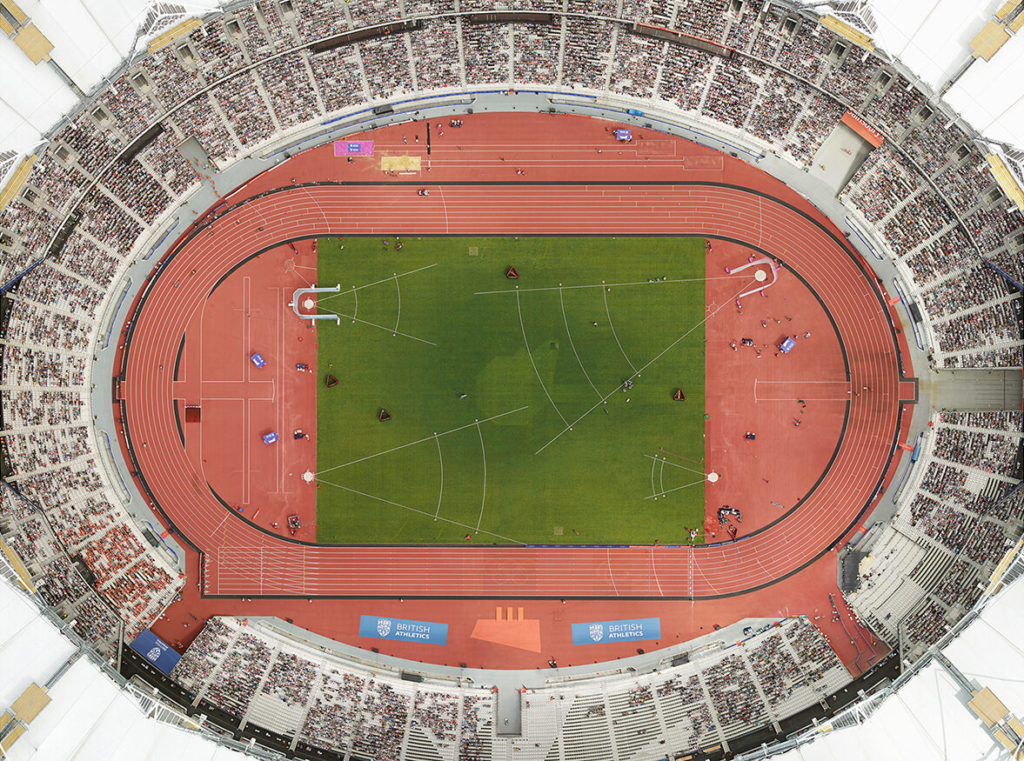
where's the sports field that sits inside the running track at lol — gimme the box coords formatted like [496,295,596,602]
[315,238,755,545]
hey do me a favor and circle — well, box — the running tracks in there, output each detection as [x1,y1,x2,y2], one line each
[110,111,921,670]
